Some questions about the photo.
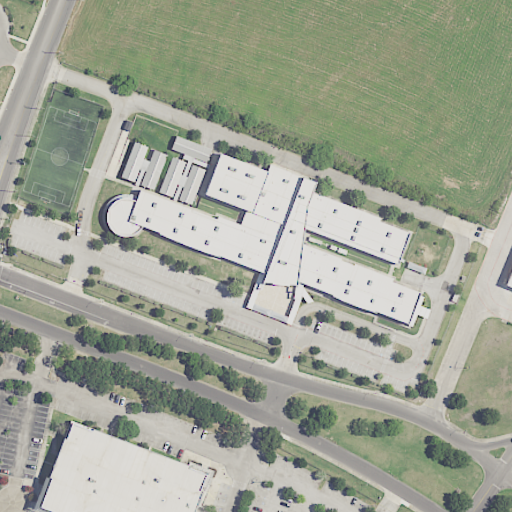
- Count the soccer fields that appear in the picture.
1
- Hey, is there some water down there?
No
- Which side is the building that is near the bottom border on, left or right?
left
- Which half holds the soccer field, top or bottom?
top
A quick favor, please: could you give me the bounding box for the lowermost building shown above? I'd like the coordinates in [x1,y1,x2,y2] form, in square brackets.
[34,420,214,512]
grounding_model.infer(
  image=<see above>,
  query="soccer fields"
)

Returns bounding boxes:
[20,90,102,212]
